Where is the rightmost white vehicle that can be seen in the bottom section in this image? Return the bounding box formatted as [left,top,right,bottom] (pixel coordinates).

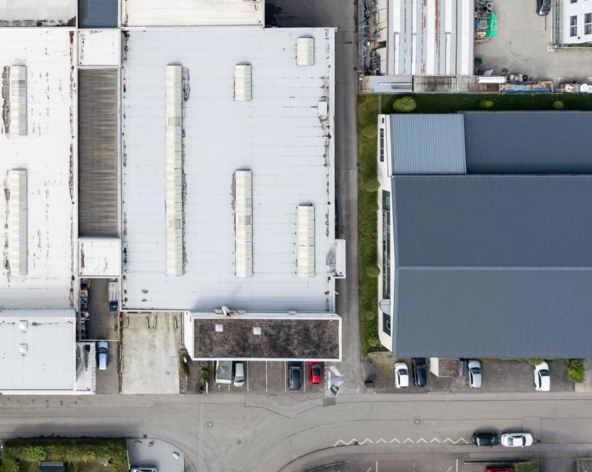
[531,359,552,394]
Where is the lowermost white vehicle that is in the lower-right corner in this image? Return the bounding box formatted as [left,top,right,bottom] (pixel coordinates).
[499,431,534,448]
